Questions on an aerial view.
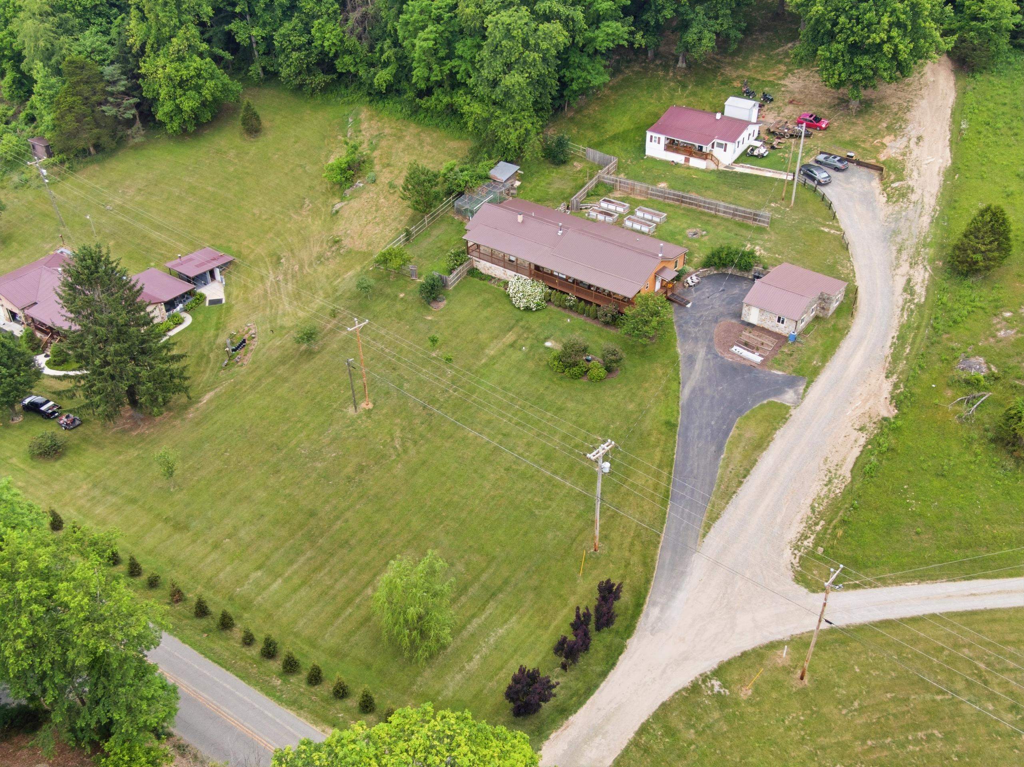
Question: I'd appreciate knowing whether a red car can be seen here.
Yes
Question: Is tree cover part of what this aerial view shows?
Yes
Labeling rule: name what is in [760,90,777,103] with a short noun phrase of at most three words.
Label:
vehicle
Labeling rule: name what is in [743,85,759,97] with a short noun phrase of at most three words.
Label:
vehicle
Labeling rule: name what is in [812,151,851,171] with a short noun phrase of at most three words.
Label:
car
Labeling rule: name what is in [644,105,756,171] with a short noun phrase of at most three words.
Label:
house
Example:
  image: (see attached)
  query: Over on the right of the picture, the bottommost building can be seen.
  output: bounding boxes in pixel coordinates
[741,261,849,336]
